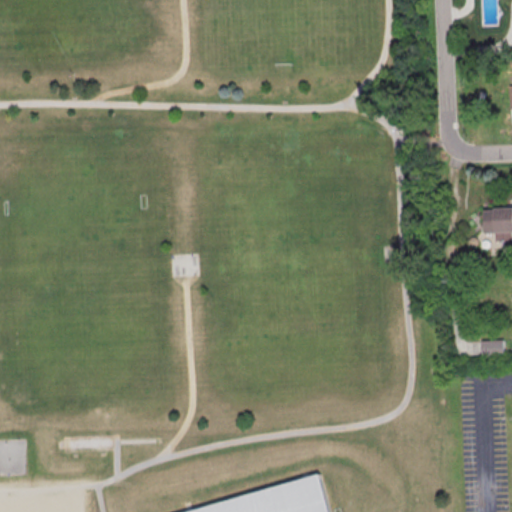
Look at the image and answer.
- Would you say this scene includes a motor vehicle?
No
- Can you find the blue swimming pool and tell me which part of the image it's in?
top right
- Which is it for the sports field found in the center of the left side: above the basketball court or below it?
above it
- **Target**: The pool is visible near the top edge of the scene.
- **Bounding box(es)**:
[482,0,504,27]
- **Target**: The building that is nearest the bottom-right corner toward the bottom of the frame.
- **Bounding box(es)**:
[482,340,506,354]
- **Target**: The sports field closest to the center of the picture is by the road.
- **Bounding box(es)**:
[206,130,388,392]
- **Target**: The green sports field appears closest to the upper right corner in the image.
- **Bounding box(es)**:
[204,0,378,68]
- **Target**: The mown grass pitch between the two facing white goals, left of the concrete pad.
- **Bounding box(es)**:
[2,137,148,272]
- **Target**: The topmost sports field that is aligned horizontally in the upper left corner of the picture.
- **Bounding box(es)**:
[0,0,140,62]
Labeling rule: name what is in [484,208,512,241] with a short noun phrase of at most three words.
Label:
house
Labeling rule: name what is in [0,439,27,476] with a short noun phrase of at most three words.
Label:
basketball court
